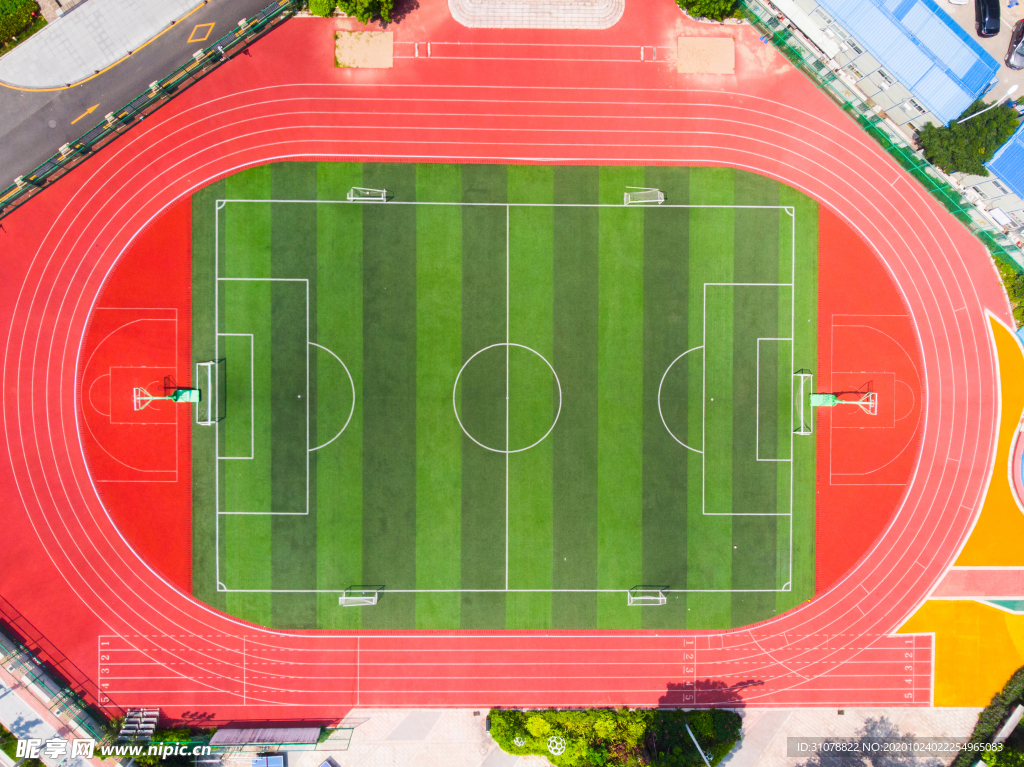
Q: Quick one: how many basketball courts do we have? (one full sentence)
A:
In total, there are 2 basketball courts in the scene.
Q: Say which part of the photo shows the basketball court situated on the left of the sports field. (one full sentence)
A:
You can find the basketball court situated on the left of the sports field in the left area of the picture.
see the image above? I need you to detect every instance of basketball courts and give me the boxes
[815,205,921,595]
[81,196,192,596]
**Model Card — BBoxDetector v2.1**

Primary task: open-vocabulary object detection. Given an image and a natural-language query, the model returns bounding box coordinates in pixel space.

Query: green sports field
[192,163,820,630]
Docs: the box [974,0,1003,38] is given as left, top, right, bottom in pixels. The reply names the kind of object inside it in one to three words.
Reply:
car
